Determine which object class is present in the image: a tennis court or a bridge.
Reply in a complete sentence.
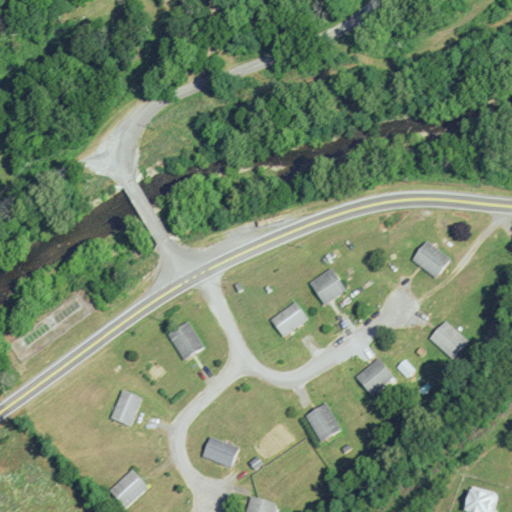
It is a bridge that can be seen here.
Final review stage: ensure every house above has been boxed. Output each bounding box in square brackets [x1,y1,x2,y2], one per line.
[464,486,498,512]
[270,302,308,338]
[112,390,143,426]
[169,322,204,362]
[202,437,242,468]
[306,404,341,443]
[247,496,278,512]
[358,360,392,390]
[413,242,450,278]
[309,268,346,304]
[110,470,148,508]
[430,322,468,359]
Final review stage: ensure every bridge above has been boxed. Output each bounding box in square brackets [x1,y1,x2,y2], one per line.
[119,174,173,248]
